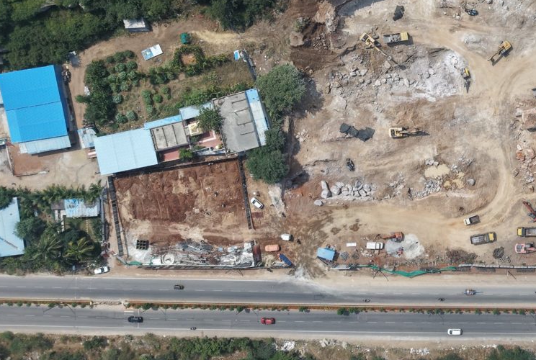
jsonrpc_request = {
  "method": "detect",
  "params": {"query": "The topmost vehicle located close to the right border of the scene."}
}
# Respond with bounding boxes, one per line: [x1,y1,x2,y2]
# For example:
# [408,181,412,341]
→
[488,40,510,64]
